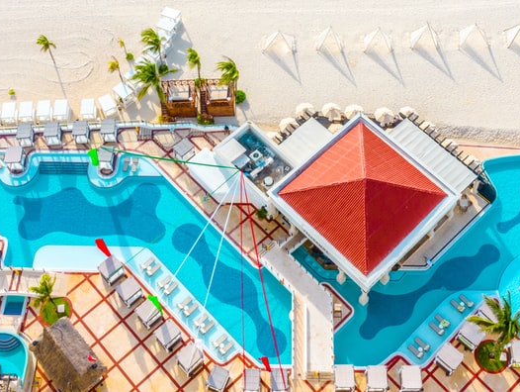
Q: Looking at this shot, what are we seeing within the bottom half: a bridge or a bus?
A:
bridge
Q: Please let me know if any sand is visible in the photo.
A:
Yes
